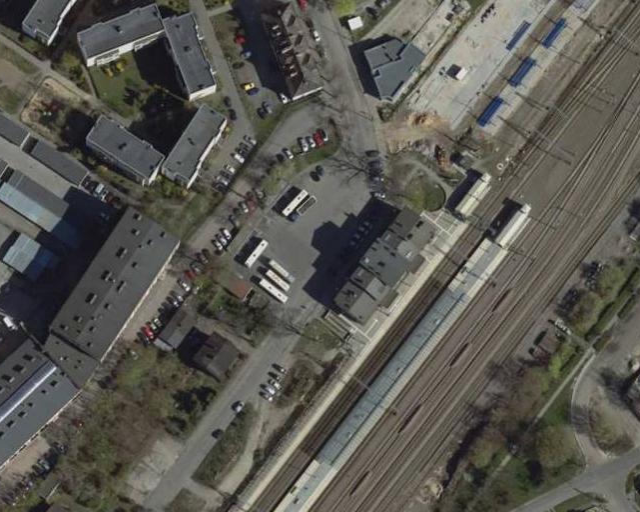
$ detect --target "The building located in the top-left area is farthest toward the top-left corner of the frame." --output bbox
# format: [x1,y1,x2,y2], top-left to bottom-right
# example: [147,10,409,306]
[23,0,77,43]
